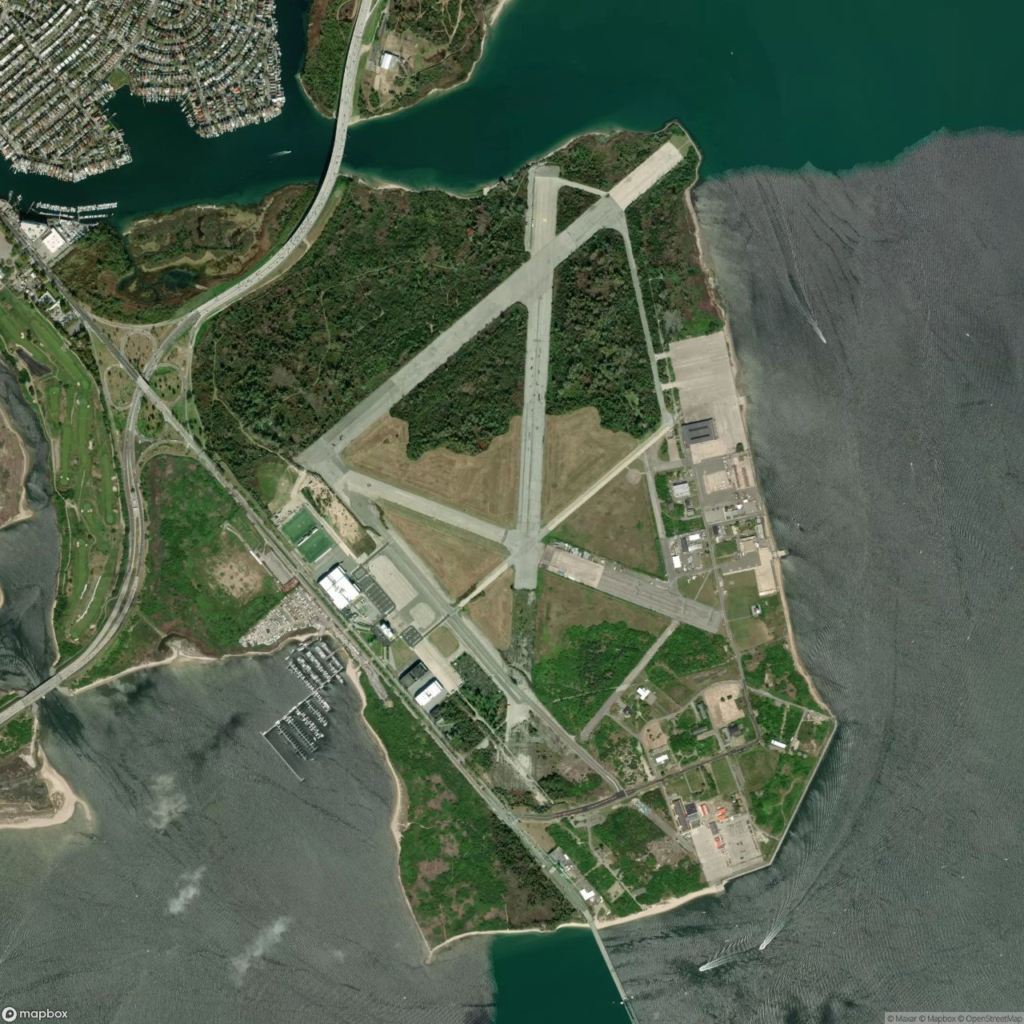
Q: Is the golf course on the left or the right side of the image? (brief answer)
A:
left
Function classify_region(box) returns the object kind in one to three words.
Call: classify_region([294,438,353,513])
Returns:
runway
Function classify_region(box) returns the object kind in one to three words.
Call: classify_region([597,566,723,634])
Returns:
runway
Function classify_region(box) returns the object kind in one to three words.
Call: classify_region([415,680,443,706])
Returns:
hangar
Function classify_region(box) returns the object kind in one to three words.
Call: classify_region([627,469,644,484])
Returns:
helipad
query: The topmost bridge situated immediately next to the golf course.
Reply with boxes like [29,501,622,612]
[197,0,379,315]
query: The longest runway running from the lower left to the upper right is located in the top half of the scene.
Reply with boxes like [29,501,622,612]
[355,192,624,437]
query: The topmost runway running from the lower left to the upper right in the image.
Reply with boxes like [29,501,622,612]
[608,142,683,210]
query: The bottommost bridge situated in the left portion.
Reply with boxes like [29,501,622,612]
[0,666,70,724]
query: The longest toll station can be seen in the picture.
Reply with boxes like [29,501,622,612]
[557,862,572,884]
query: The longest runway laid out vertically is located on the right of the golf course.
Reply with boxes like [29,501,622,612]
[517,282,554,531]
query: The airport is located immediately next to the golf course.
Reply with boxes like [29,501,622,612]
[294,142,723,805]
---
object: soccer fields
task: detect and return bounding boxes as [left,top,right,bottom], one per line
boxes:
[299,528,333,563]
[282,506,318,543]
